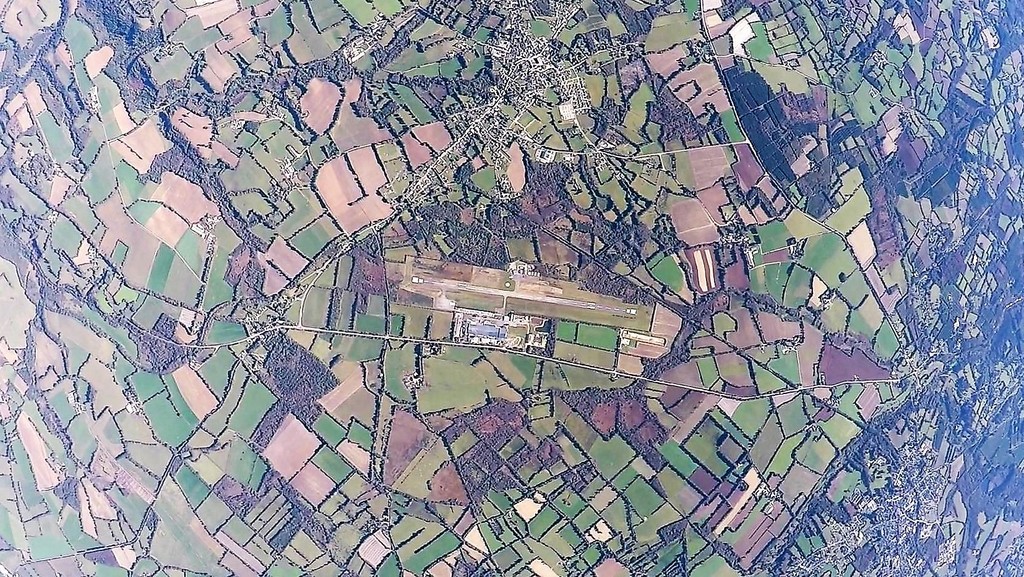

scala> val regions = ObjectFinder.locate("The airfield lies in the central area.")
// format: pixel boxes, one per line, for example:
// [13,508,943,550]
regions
[402,256,656,335]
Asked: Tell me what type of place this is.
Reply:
farmland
